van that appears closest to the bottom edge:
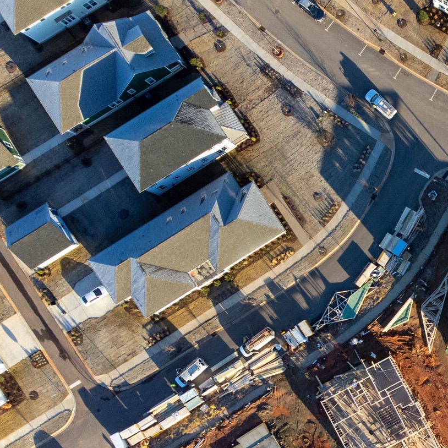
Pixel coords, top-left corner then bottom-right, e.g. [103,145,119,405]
[171,355,209,388]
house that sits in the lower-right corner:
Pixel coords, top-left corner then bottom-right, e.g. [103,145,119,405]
[317,353,445,448]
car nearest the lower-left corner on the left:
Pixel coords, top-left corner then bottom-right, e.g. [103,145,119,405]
[76,286,108,306]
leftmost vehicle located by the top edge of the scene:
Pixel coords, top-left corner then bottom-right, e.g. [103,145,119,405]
[295,0,324,22]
